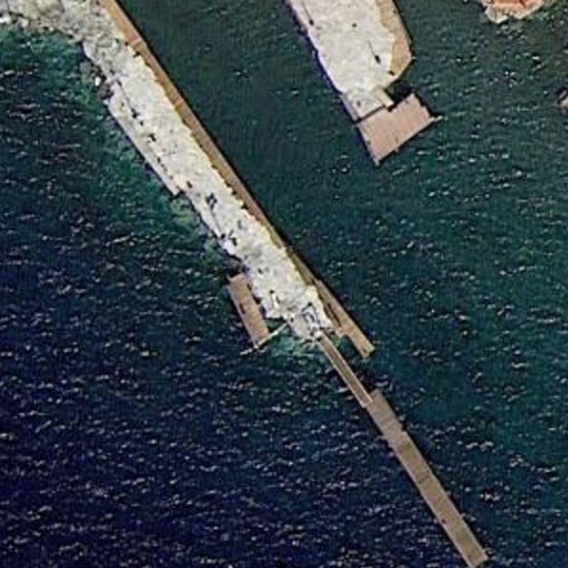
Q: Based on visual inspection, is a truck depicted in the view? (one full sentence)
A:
No, the picture doesn't show any truck.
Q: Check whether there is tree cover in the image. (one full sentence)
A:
No, no tree cover is visible.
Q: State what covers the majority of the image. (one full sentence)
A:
What you mostly see from above here is water.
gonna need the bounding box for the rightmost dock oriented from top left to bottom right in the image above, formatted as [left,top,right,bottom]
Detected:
[365,389,489,568]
